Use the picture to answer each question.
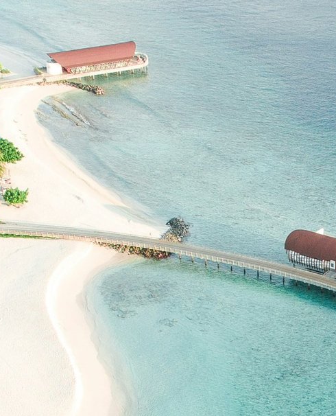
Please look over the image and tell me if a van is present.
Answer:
No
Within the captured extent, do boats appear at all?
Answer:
No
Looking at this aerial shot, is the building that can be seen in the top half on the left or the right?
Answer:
left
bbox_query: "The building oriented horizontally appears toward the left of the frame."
[32,36,150,86]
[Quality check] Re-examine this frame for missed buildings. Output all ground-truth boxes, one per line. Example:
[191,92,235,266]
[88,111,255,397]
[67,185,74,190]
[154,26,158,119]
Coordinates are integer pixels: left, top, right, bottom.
[287,229,336,280]
[32,36,150,86]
